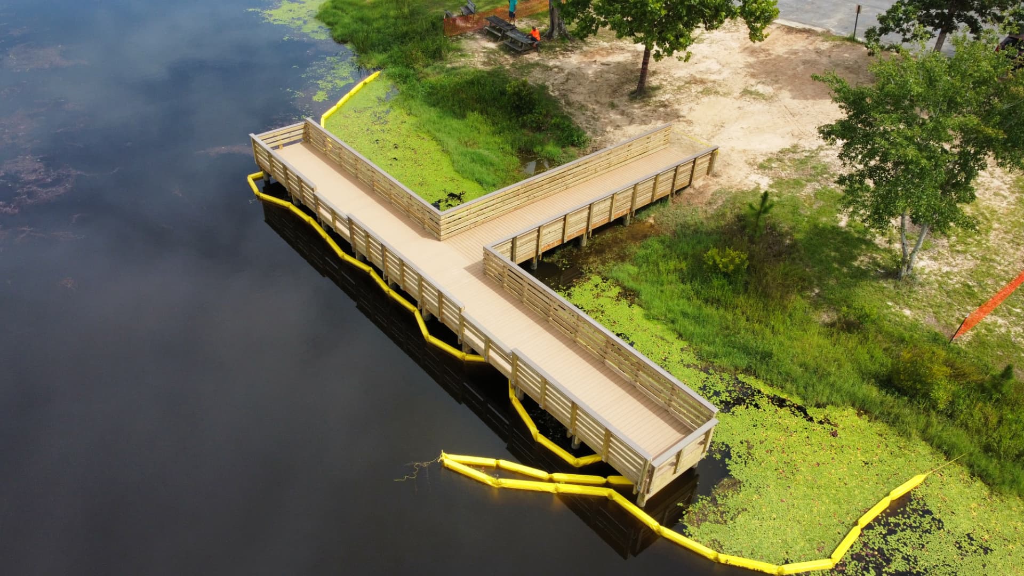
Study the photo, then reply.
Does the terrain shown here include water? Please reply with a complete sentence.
Yes, water can be seen from above here.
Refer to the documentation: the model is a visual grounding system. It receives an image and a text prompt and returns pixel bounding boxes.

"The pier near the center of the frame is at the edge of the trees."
[249,118,720,505]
